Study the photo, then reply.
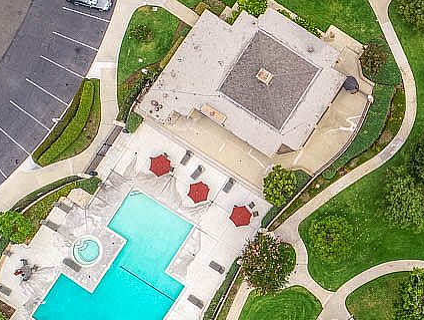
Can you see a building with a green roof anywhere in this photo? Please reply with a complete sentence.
No, there appears to be no building with a green roof in this shot.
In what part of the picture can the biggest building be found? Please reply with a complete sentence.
The biggest building is located in the top region of the scene.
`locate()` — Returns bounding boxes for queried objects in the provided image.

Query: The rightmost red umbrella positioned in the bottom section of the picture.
[229,204,252,227]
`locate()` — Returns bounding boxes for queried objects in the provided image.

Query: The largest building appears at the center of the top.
[134,8,346,158]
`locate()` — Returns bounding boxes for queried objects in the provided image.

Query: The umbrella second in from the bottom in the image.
[186,180,209,204]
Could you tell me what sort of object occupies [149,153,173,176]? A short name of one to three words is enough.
umbrella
